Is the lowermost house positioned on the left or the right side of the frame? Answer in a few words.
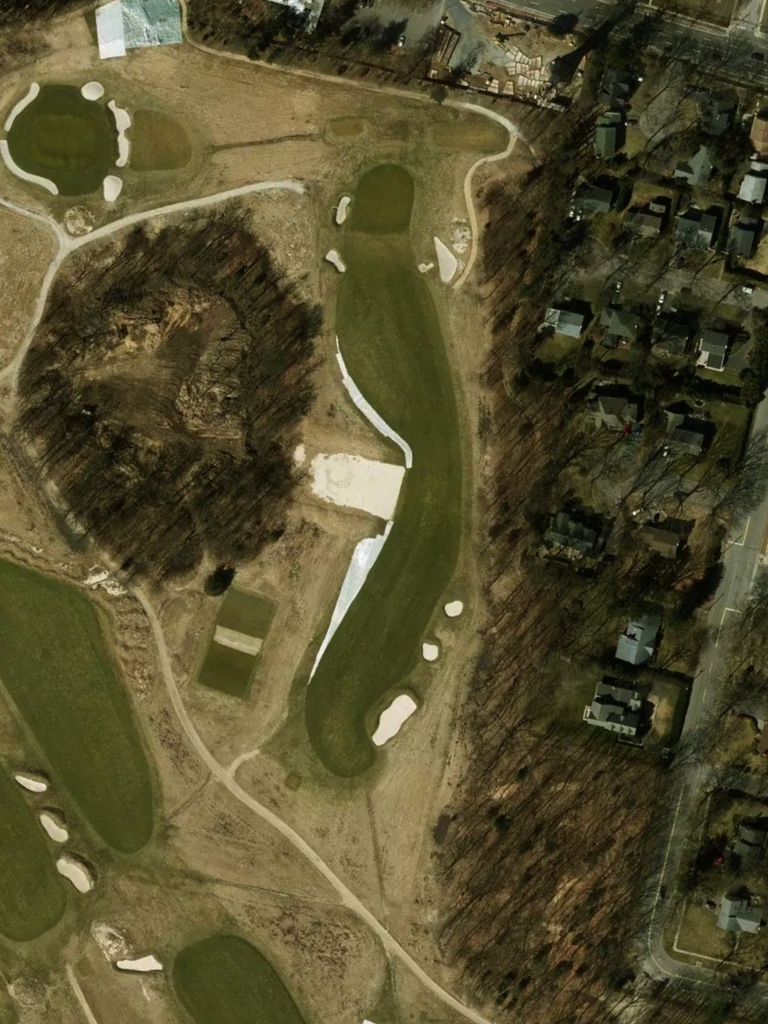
right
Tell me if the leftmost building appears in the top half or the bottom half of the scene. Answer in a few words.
top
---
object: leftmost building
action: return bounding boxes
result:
[262,0,322,33]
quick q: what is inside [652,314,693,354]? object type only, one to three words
house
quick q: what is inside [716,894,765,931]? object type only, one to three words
house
